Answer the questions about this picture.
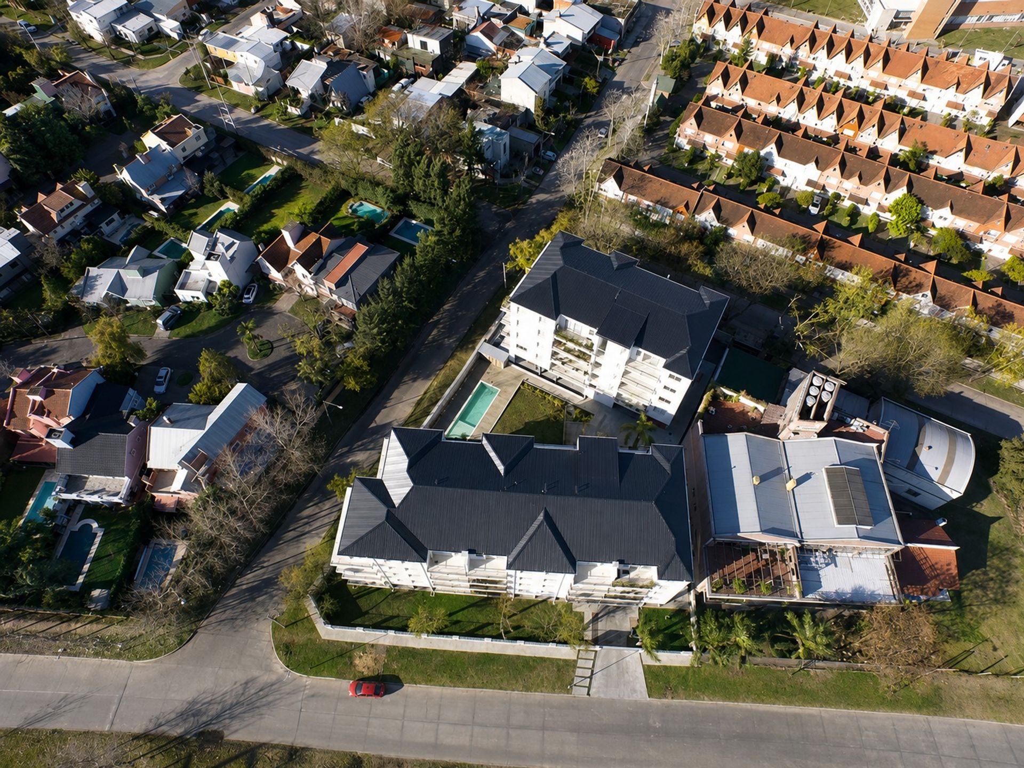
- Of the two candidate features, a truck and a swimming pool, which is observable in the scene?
swimming pool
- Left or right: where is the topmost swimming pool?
left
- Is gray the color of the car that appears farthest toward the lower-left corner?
No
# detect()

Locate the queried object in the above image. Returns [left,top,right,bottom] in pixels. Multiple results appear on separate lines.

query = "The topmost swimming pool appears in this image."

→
[243,164,284,195]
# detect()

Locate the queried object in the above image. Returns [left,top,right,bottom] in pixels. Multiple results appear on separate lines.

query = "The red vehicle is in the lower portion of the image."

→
[348,678,386,698]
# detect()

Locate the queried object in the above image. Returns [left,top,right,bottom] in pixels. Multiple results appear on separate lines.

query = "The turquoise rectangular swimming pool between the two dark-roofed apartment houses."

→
[446,380,499,442]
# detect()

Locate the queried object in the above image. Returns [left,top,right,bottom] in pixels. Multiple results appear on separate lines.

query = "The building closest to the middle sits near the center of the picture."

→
[485,350,511,377]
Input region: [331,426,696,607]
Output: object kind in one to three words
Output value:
building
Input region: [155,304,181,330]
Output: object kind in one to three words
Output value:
car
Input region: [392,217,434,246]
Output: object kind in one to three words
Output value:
swimming pool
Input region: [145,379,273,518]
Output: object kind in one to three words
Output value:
house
